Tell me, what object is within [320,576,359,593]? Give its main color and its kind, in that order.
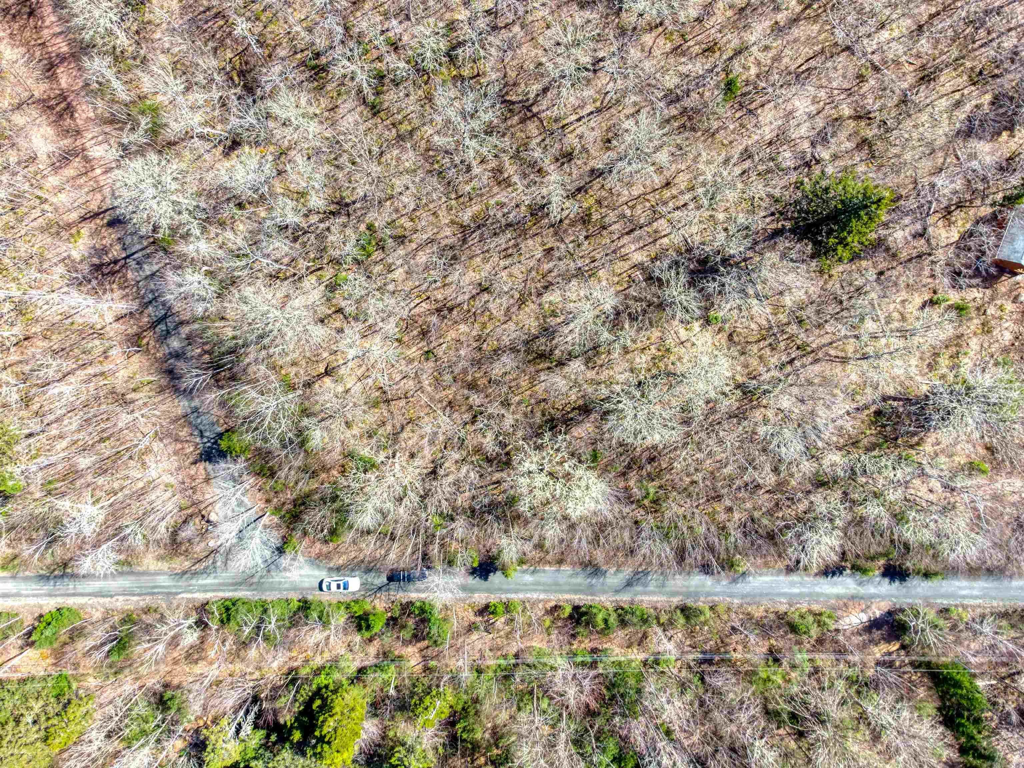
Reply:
white car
